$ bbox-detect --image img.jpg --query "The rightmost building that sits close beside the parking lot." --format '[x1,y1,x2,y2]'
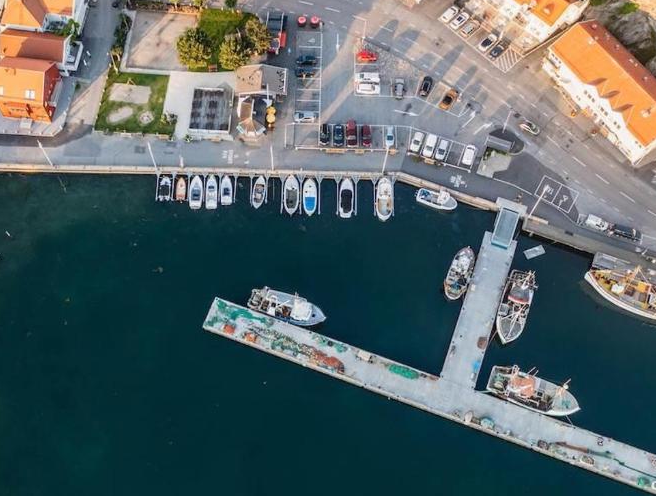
[542,22,656,164]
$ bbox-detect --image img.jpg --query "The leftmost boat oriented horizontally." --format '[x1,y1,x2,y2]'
[246,289,327,324]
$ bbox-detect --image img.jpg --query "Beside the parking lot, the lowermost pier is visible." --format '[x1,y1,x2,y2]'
[201,231,656,496]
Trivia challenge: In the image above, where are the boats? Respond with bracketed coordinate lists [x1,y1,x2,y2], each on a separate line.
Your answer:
[338,178,354,218]
[221,175,232,205]
[189,174,203,210]
[205,174,217,209]
[443,245,475,304]
[246,289,327,324]
[413,188,458,208]
[283,176,299,216]
[252,175,265,209]
[302,177,317,216]
[158,172,170,203]
[582,269,656,315]
[176,175,186,202]
[376,180,394,222]
[487,368,582,415]
[496,265,538,346]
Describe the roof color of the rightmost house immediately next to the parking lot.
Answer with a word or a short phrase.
orange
